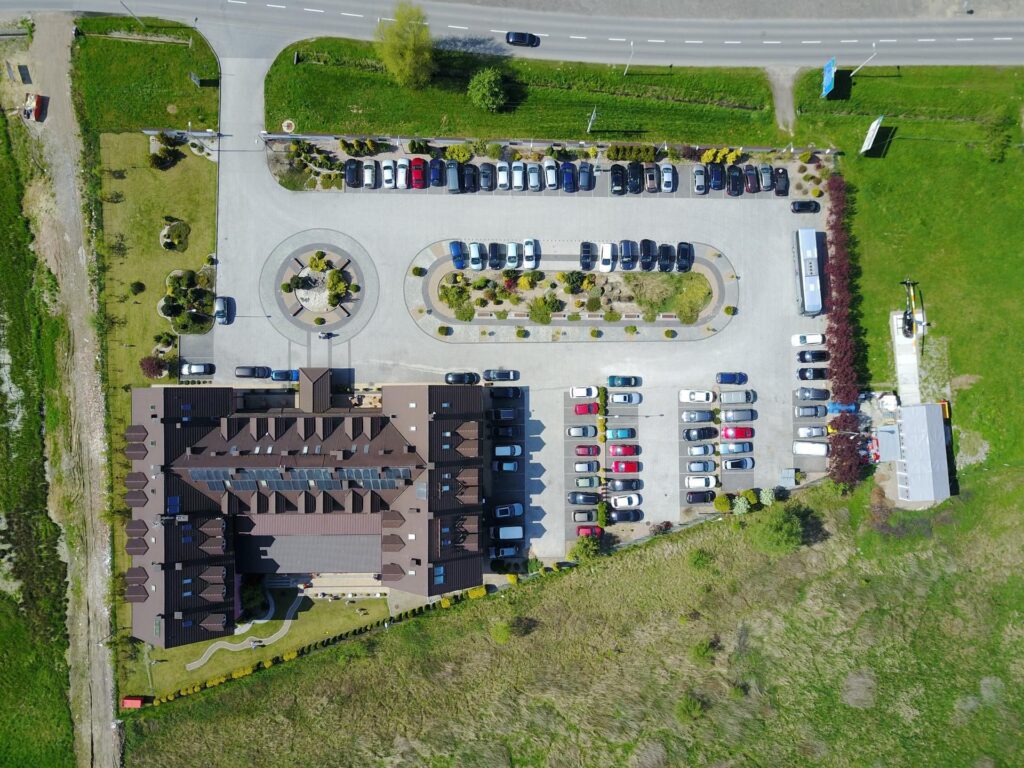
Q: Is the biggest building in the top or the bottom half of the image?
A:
bottom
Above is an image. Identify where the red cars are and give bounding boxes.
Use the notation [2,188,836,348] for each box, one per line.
[411,158,426,190]
[721,426,752,440]
[610,444,638,457]
[575,444,600,457]
[576,525,603,539]
[612,460,639,473]
[573,402,600,415]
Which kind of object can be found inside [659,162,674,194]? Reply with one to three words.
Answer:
car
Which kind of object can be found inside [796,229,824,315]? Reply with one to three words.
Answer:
bus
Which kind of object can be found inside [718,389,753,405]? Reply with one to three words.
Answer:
vehicle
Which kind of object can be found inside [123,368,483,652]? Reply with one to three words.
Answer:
building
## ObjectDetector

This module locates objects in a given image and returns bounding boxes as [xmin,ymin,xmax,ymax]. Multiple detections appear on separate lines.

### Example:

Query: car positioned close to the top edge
[506,32,537,50]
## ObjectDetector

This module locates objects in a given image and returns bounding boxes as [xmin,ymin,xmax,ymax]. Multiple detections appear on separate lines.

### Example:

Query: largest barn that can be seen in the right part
[883,405,950,501]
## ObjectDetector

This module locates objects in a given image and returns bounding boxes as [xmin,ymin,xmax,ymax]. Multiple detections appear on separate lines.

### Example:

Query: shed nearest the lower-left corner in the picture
[123,694,148,709]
